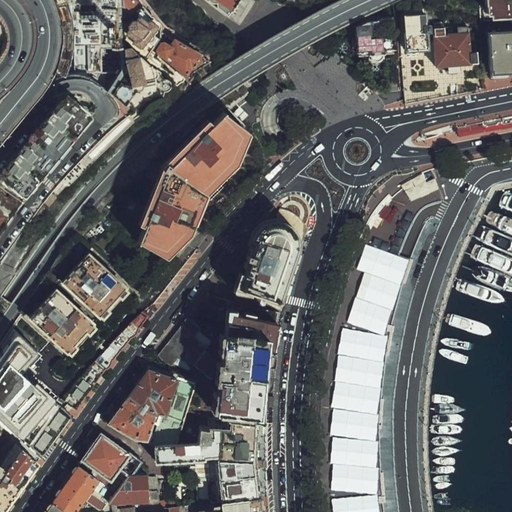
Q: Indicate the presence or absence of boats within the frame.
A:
Yes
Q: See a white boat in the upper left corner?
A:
No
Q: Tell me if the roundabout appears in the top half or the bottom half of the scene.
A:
top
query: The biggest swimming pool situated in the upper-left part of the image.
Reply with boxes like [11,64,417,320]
[117,86,132,102]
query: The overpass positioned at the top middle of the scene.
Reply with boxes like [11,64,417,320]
[214,0,400,92]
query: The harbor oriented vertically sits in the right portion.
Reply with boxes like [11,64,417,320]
[418,179,512,512]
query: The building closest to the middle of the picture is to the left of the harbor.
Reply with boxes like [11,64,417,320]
[236,218,304,309]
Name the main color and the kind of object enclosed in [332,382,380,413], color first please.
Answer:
white tent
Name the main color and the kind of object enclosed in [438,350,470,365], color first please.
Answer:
white boat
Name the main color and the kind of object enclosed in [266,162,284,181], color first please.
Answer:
white vehicle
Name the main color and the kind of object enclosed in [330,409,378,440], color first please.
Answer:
white tent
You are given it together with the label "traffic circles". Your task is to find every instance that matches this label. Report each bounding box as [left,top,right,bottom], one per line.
[324,118,390,185]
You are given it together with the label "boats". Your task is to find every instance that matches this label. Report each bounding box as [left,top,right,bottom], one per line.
[432,482,452,490]
[431,394,456,404]
[466,242,512,274]
[430,435,462,446]
[455,276,507,304]
[430,414,464,424]
[432,456,457,466]
[436,498,451,506]
[432,465,456,475]
[481,209,512,234]
[440,339,474,350]
[468,270,512,295]
[475,226,512,254]
[494,192,512,210]
[432,492,447,500]
[431,446,462,456]
[444,312,494,336]
[434,404,465,414]
[428,424,463,435]
[438,350,470,365]
[432,474,451,482]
